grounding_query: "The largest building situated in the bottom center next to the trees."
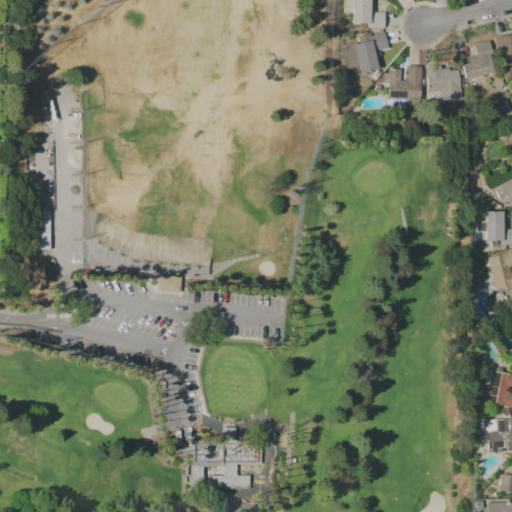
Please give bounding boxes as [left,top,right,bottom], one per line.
[206,464,253,488]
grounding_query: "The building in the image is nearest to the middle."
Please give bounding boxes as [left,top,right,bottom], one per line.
[158,276,183,292]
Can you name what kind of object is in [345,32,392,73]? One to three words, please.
house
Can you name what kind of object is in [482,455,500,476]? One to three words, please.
swimming pool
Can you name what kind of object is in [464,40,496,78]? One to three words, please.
house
